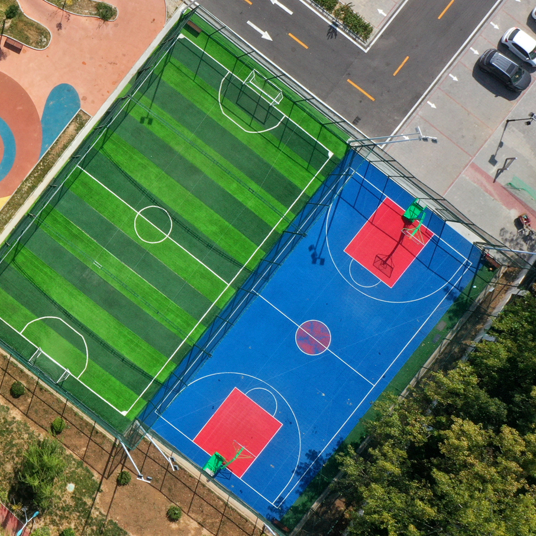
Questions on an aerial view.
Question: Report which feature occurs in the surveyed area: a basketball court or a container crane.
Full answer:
I can see a basketball court in this picture.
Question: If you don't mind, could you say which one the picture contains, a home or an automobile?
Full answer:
The one in the frame is an automobile.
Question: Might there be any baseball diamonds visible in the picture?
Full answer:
No, I can't see a single baseball diamond in this photo.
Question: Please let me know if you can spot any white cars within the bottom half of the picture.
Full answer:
No, no white car is visible within the bottom half of the picture.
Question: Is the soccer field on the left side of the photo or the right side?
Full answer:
The soccer field sits on the left side.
